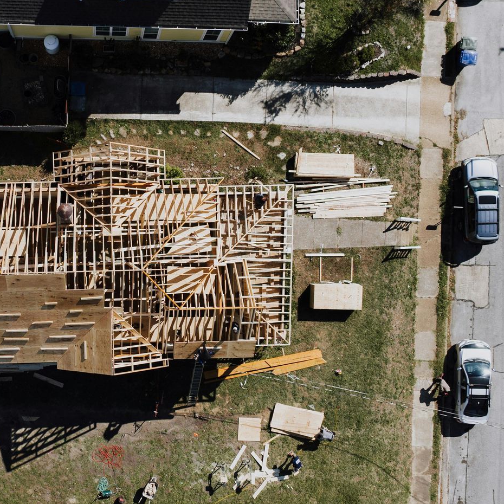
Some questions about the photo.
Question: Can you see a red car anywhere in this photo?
No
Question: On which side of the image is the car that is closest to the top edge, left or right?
right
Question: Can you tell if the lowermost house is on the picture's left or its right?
left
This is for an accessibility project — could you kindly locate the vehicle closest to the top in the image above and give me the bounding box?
[453,156,503,244]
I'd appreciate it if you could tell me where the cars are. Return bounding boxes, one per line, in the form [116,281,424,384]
[448,338,496,423]
[453,156,503,244]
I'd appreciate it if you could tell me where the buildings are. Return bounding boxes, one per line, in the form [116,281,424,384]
[0,142,295,376]
[0,0,301,47]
